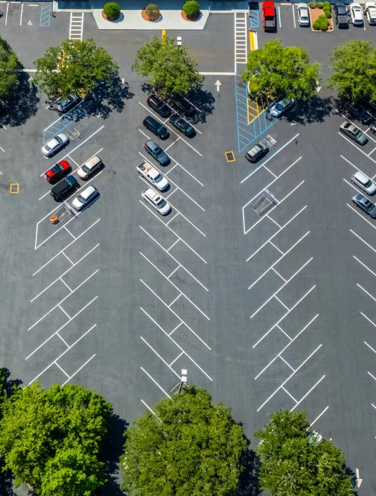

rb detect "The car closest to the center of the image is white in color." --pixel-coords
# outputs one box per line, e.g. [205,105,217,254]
[140,185,171,216]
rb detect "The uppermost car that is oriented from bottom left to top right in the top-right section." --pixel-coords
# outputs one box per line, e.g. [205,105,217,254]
[267,93,298,120]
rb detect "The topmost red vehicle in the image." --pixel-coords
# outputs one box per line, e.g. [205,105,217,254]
[262,0,276,29]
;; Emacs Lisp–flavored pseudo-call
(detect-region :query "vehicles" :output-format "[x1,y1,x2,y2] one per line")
[141,138,171,168]
[366,120,376,137]
[143,92,173,121]
[50,175,77,199]
[349,169,376,197]
[262,0,276,29]
[167,113,198,140]
[349,2,365,27]
[142,115,169,140]
[39,133,70,159]
[44,161,69,183]
[333,0,350,28]
[349,190,376,222]
[337,119,369,146]
[243,139,272,163]
[267,93,298,120]
[133,158,171,194]
[55,94,81,114]
[168,92,196,118]
[341,100,373,125]
[76,153,104,179]
[73,185,101,212]
[297,3,310,27]
[363,2,376,27]
[140,185,171,216]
